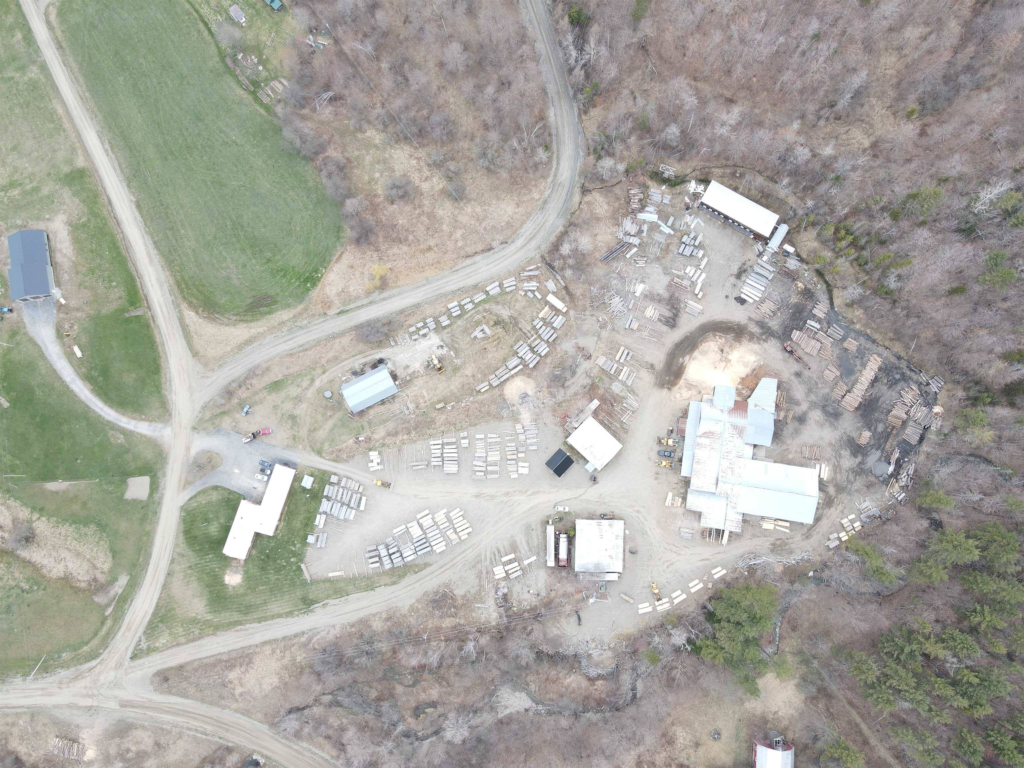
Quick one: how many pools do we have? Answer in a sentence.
There are no pools in this view.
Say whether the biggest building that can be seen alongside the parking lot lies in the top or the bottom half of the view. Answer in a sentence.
The biggest building that can be seen alongside the parking lot sits in the bottom half of the picture.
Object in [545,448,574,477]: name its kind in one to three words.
building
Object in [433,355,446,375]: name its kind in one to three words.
vehicle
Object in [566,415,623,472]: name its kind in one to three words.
building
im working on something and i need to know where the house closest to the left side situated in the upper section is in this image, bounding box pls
[7,231,55,301]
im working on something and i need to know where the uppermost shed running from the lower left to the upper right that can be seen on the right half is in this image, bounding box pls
[766,224,789,251]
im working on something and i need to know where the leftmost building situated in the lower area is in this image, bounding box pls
[223,464,297,560]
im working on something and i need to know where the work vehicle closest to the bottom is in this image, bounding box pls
[650,583,663,605]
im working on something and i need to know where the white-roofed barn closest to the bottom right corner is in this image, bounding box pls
[755,729,794,768]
